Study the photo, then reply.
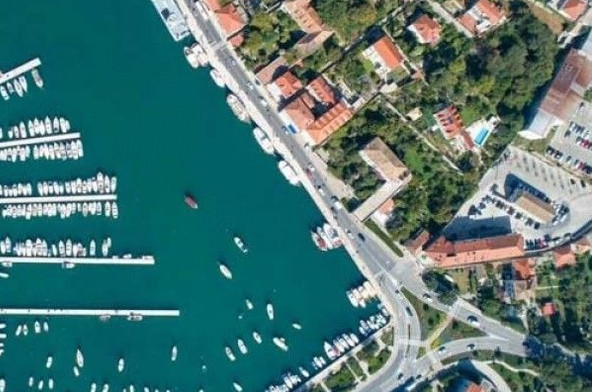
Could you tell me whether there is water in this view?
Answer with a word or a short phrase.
Yes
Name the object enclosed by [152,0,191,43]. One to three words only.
ship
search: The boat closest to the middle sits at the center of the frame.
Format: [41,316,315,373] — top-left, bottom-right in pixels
[276,157,298,184]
